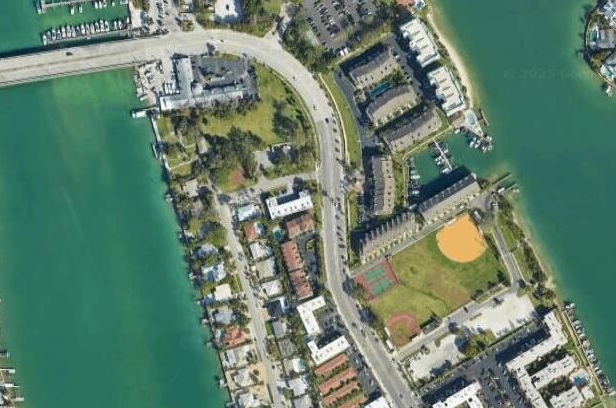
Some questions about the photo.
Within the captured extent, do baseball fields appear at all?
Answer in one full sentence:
Yes, looking at the shot, I can spot a baseball field.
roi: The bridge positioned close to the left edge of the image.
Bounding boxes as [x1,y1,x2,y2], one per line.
[0,40,123,86]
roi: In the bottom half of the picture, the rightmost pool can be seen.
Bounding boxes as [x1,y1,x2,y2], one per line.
[566,367,589,388]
